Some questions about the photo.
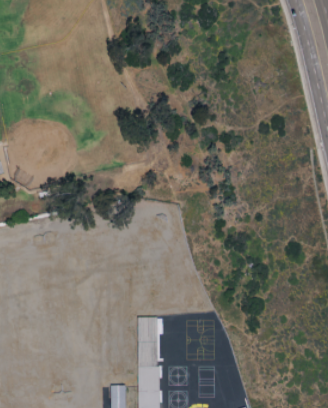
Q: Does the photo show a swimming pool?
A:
No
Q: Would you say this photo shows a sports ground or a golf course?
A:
sports ground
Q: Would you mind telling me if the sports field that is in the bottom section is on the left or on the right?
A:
left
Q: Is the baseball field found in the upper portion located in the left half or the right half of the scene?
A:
left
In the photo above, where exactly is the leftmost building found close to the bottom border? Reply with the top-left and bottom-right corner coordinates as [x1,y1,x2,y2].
[111,386,126,408]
